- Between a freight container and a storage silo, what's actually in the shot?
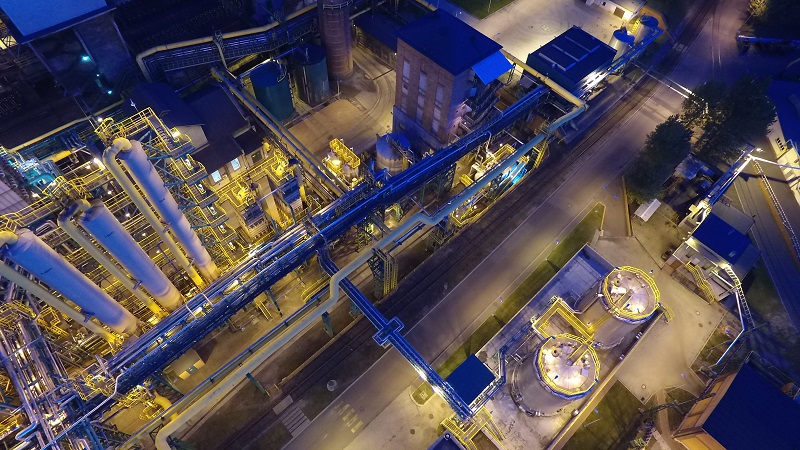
storage silo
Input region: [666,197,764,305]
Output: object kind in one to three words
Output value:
building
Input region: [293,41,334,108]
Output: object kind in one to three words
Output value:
silo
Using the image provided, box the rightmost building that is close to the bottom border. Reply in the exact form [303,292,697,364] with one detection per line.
[674,352,800,450]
